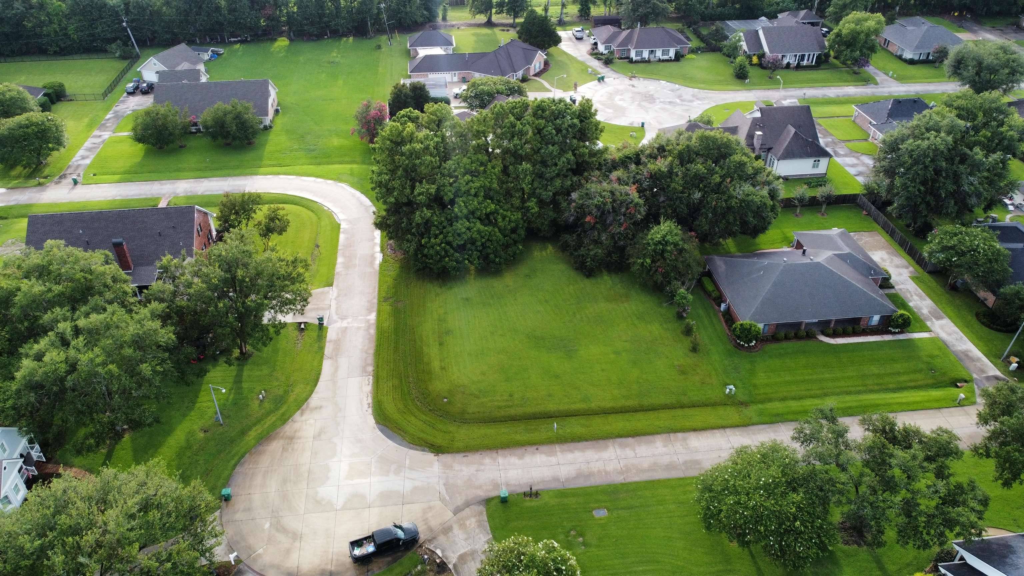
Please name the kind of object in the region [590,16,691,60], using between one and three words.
house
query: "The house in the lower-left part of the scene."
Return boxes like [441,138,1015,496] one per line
[0,434,68,524]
